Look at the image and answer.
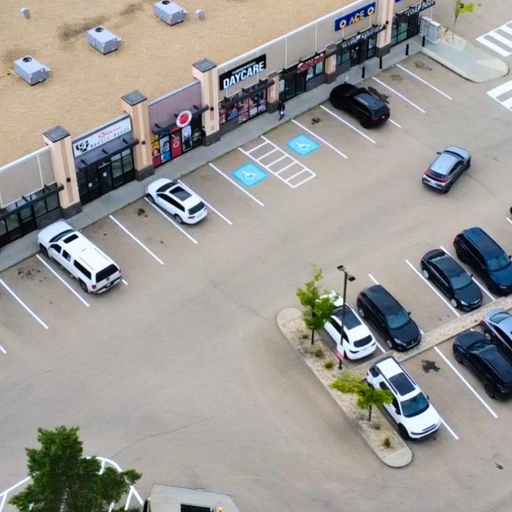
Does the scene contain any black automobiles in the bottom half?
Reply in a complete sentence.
Yes, a black automobile is visible in the bottom half.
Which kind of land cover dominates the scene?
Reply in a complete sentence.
For the most part, this view shows paved ground.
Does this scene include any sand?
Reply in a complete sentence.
No, the scene doesn't show any sand.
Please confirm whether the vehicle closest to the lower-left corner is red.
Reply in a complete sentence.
No, the color of the vehicle closest to the lower-left corner is white.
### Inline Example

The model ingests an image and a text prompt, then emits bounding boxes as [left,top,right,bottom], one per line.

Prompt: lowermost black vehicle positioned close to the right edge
[452,334,512,401]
